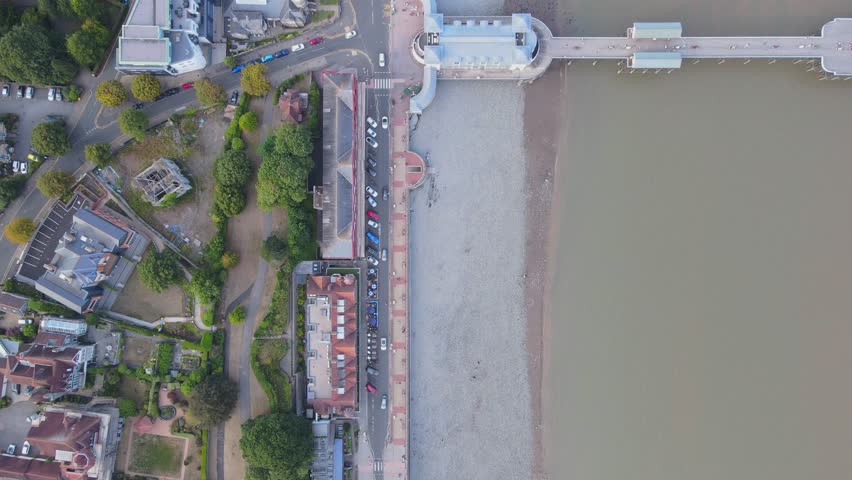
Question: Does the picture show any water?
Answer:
Yes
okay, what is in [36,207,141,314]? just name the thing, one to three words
building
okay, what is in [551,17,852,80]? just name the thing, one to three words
pier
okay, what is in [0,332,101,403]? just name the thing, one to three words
house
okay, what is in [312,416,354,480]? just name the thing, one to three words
building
